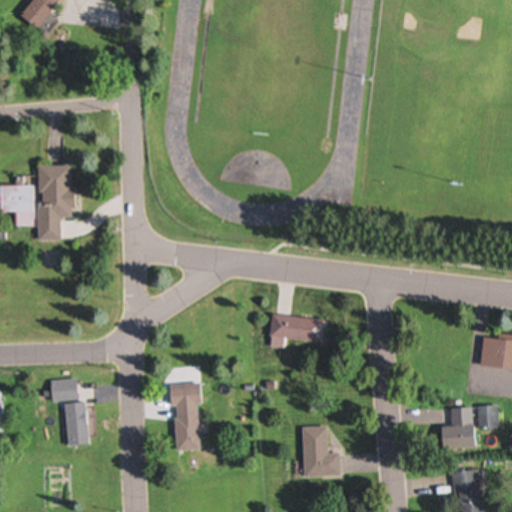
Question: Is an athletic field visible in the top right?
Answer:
Yes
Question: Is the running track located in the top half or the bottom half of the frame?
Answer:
top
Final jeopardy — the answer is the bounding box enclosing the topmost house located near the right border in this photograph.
[482,334,512,368]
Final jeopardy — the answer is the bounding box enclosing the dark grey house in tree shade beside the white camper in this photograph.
[454,469,485,512]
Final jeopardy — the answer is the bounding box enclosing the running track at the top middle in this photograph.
[166,0,374,226]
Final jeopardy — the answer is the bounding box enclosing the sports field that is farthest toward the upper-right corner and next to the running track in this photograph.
[362,0,512,234]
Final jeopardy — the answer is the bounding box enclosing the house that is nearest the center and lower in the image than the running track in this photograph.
[270,314,324,348]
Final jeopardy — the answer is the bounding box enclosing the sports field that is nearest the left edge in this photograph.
[187,0,352,202]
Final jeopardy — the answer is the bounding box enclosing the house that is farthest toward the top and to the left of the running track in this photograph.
[22,0,62,32]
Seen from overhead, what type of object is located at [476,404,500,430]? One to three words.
building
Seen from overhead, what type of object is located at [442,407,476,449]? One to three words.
house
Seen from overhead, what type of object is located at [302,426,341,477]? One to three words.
house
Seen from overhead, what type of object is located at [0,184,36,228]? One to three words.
building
